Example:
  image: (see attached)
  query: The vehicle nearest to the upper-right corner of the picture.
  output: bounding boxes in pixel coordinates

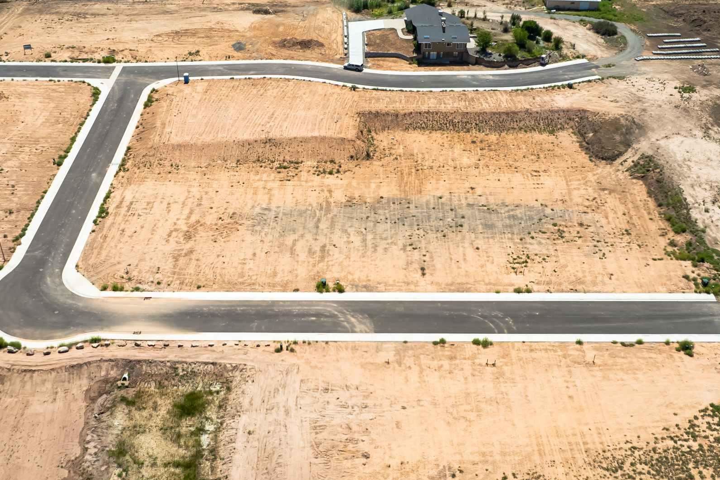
[542,52,556,65]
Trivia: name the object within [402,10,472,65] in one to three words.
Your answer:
house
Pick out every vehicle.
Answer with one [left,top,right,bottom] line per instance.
[542,52,556,65]
[341,62,362,70]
